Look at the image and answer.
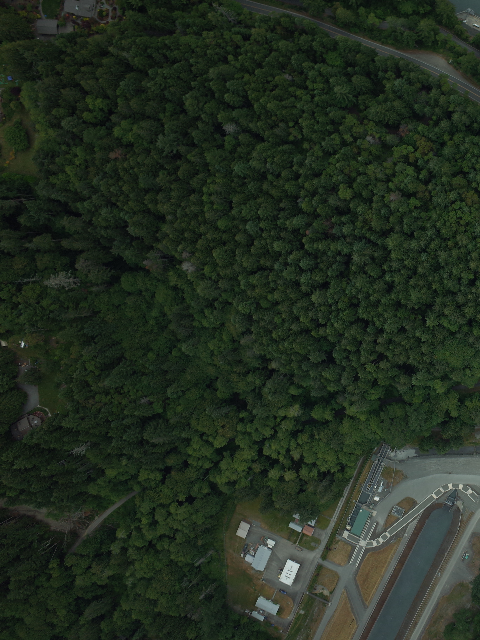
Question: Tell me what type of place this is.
forest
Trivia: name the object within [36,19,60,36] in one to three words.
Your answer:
building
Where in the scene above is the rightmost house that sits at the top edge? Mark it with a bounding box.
[64,0,97,19]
